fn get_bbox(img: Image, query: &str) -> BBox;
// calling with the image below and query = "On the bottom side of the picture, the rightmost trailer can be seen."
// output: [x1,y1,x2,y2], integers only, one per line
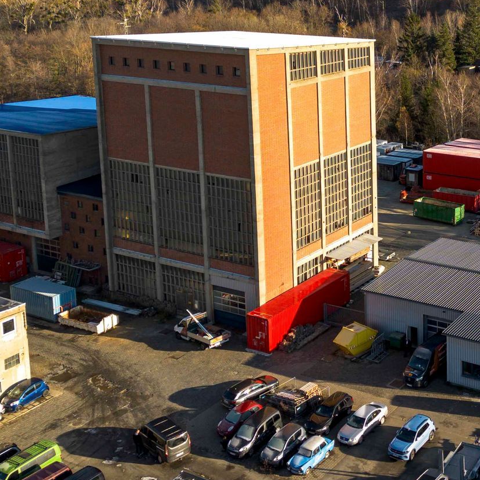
[442,439,480,480]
